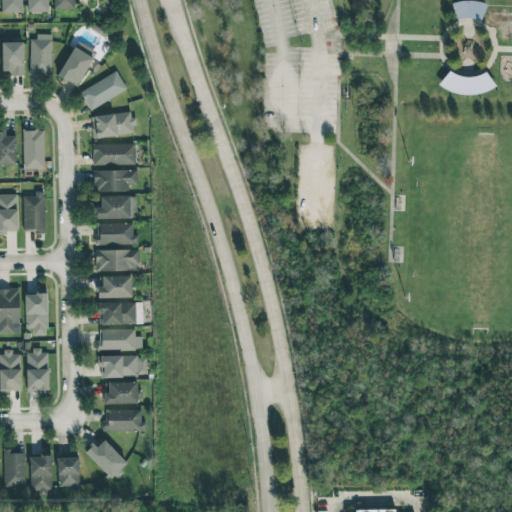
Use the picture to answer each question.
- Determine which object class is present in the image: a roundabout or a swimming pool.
swimming pool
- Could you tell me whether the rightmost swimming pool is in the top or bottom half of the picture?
top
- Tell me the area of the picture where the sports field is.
right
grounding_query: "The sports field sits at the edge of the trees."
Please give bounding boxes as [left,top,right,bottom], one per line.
[402,121,512,338]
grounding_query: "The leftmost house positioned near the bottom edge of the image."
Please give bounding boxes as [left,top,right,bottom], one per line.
[4,450,26,488]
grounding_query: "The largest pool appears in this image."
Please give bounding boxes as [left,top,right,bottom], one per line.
[74,26,109,61]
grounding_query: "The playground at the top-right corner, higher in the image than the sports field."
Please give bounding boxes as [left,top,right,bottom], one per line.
[486,6,512,42]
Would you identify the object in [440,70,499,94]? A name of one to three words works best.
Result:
building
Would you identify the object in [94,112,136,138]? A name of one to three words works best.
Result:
house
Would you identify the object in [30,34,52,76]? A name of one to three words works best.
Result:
house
